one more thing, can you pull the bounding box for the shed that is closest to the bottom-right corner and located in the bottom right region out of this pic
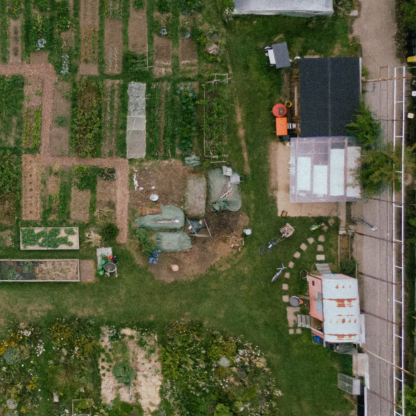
[288,263,360,343]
